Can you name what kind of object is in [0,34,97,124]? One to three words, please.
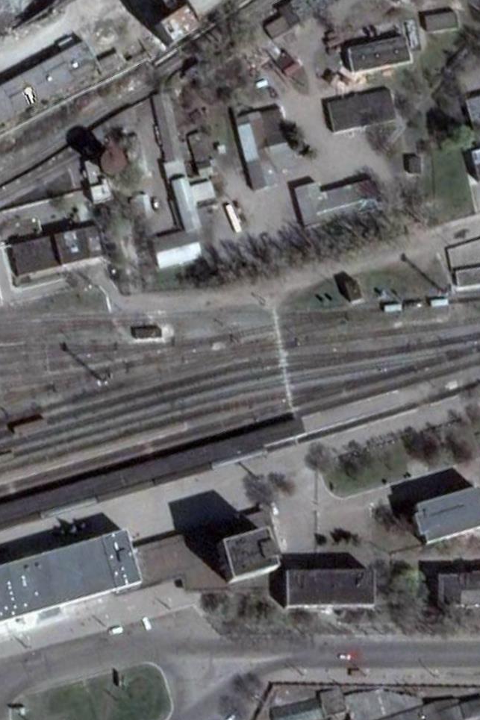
building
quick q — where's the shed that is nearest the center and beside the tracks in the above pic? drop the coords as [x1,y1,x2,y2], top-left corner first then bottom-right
[134,325,161,339]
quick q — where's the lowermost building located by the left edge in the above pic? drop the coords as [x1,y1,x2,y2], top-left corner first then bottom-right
[0,530,142,625]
